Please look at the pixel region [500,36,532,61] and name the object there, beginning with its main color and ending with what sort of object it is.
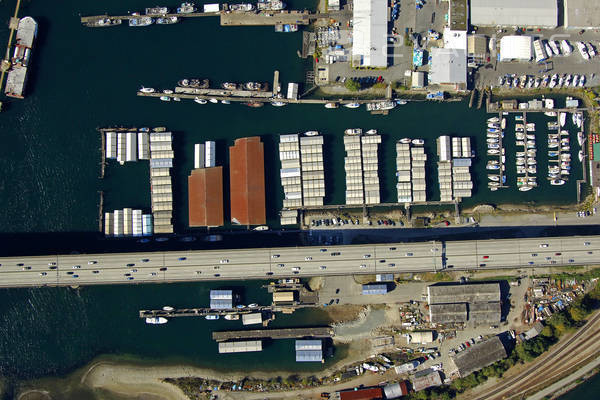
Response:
white tent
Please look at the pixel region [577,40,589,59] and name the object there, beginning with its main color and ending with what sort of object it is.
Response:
white boat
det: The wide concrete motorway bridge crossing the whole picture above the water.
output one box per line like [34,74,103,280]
[0,235,600,289]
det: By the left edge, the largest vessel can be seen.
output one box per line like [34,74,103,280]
[4,16,35,100]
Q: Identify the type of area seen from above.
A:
port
